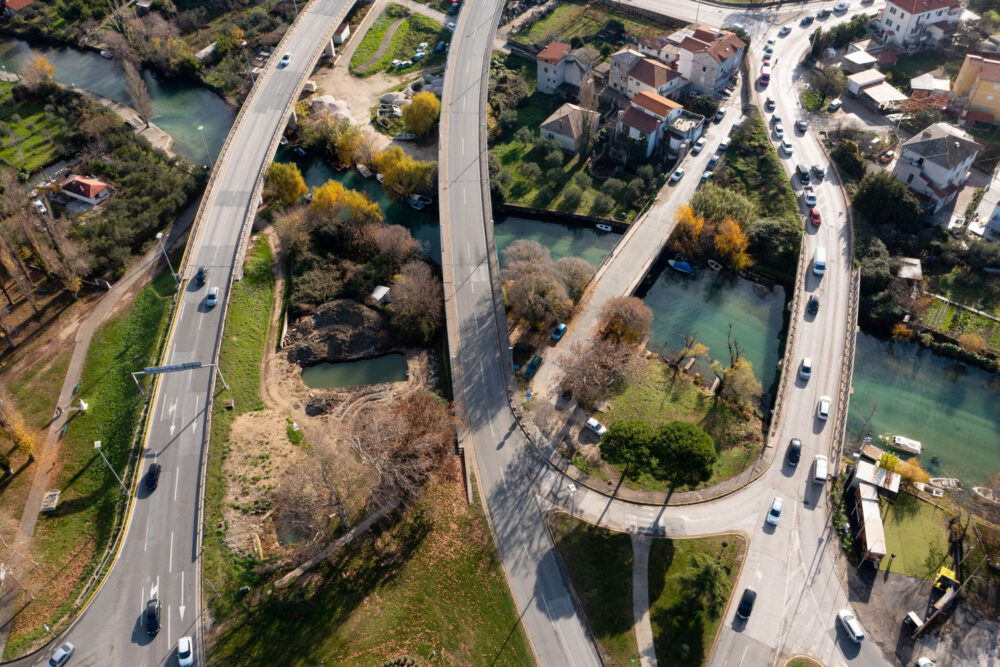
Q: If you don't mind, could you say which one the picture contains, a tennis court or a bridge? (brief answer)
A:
bridge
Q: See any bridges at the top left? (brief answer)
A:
Yes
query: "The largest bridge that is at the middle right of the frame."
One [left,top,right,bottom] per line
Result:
[769,234,860,475]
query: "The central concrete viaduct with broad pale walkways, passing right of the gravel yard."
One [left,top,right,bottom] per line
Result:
[437,0,521,430]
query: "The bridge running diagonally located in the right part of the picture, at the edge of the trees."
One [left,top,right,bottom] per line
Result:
[586,202,687,305]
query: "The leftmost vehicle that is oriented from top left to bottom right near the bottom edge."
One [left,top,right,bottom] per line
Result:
[836,606,869,644]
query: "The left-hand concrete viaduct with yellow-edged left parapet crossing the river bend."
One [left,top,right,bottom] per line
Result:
[165,0,360,329]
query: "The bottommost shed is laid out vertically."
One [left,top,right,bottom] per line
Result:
[846,483,888,566]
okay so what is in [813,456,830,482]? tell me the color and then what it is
white vehicle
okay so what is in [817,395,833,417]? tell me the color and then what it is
white car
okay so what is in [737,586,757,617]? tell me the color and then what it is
black car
